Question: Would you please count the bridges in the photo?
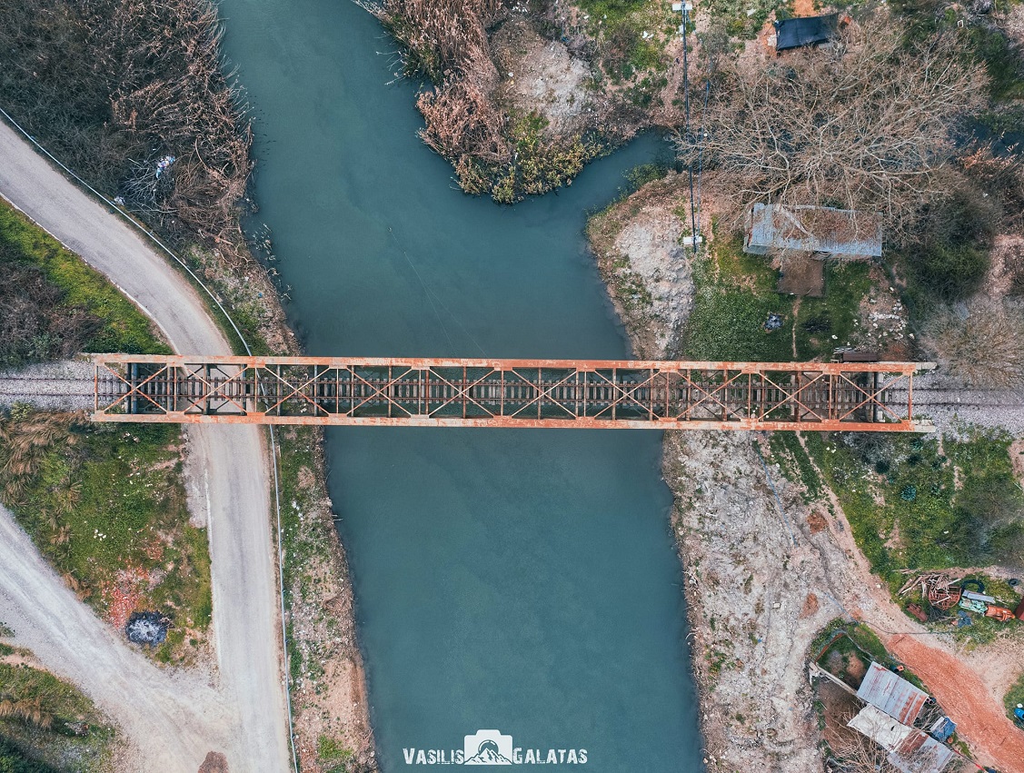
1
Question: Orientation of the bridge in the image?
from side to side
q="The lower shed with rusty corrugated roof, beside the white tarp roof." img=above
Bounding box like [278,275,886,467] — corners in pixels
[874,722,954,773]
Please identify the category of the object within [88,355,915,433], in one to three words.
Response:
bridge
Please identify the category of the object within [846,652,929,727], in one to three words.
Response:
shed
